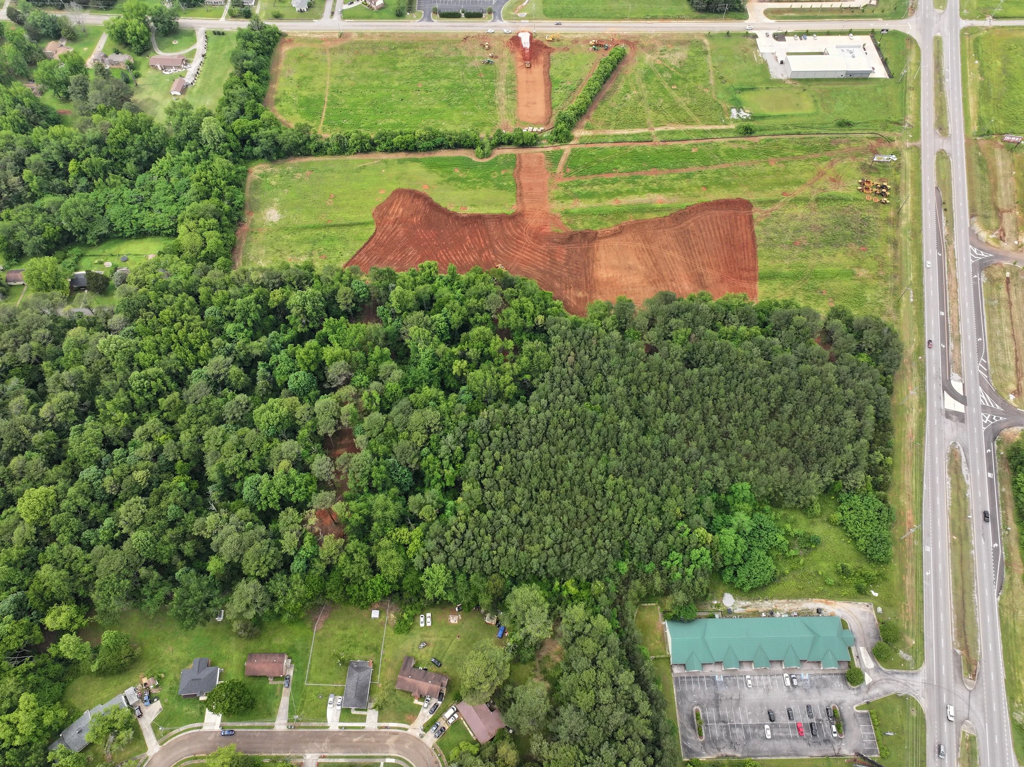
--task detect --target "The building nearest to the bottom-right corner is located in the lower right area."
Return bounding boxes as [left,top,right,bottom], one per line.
[666,616,854,672]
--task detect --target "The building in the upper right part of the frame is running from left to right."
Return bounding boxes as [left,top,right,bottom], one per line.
[783,45,873,78]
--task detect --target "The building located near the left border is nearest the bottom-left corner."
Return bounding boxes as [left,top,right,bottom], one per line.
[48,695,129,755]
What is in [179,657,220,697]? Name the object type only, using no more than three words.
house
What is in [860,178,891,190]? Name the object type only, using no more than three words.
vehicle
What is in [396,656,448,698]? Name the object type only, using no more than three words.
house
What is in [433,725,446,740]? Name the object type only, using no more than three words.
vehicle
